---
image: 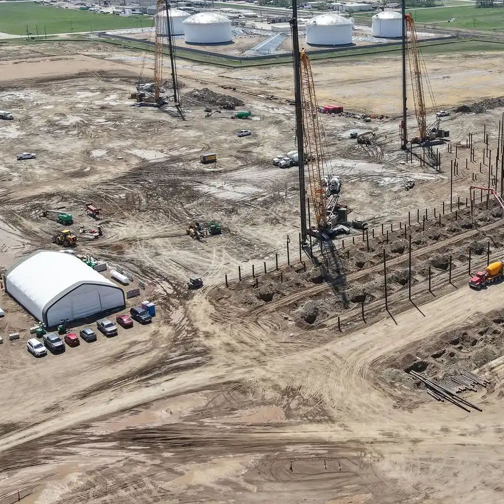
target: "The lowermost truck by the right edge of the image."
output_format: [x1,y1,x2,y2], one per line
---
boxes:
[466,256,504,288]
